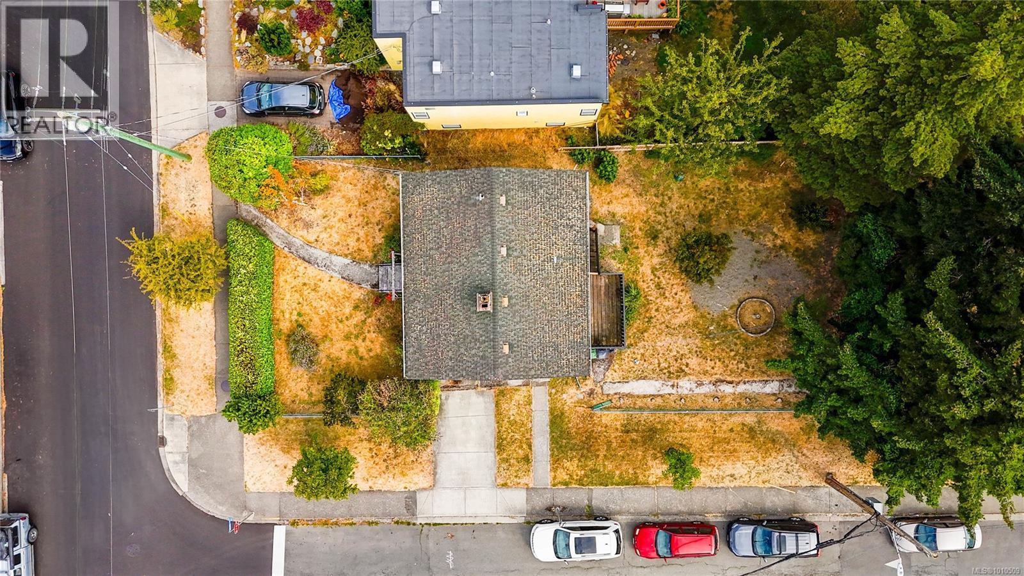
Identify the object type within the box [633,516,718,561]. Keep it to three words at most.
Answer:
car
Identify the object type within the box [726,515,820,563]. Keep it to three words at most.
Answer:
car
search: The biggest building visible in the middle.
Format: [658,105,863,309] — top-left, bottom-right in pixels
[399,167,593,382]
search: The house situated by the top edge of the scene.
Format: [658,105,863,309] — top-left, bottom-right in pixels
[372,0,636,130]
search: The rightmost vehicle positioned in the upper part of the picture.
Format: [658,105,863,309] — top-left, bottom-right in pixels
[241,75,327,120]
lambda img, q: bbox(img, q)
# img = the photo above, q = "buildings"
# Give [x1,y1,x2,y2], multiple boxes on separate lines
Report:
[399,167,593,382]
[372,0,636,130]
